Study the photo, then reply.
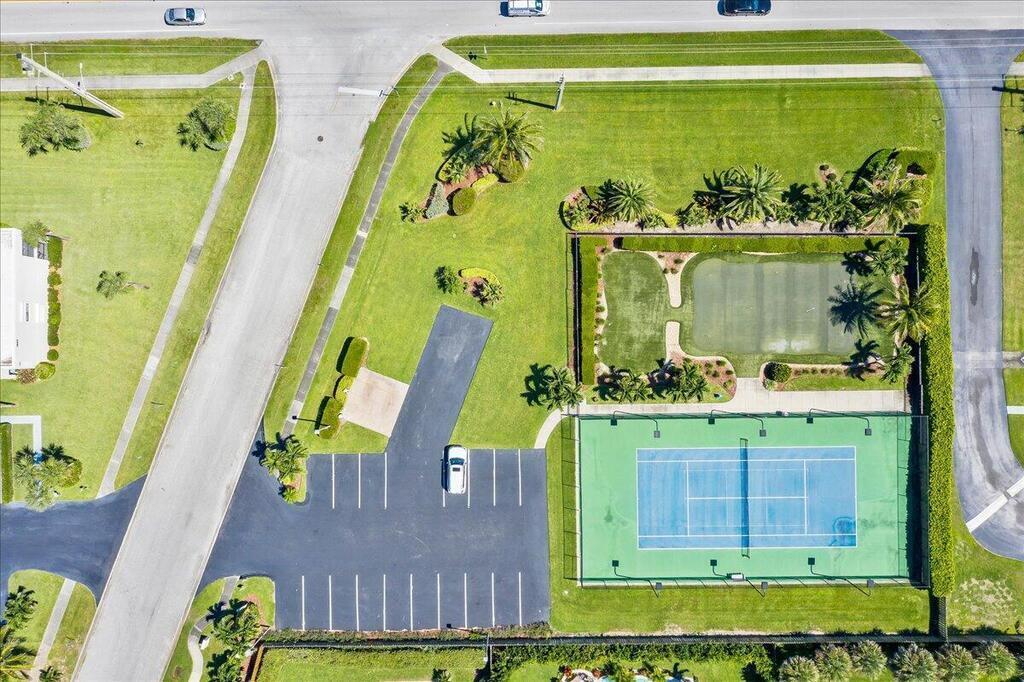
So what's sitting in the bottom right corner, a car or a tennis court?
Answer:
tennis court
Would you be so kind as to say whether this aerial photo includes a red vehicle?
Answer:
No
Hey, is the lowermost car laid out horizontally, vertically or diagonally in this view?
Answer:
vertically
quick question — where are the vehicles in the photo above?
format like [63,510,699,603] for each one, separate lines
[507,0,552,17]
[728,0,775,16]
[161,3,205,26]
[446,447,468,493]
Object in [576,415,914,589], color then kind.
green tennis court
